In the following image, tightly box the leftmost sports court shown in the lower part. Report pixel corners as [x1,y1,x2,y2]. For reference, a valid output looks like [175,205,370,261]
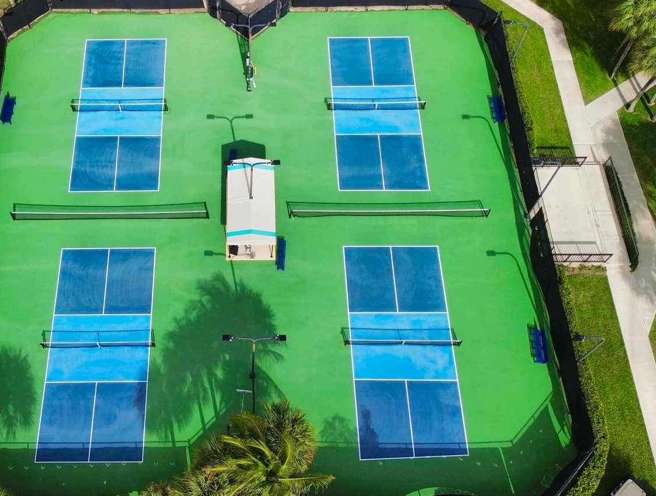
[36,248,155,461]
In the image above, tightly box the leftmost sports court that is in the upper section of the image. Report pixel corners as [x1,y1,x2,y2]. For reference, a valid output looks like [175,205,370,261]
[69,38,167,191]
